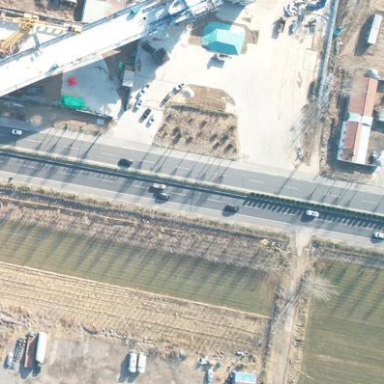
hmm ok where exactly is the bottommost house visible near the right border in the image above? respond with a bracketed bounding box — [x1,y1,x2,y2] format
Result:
[332,124,371,167]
